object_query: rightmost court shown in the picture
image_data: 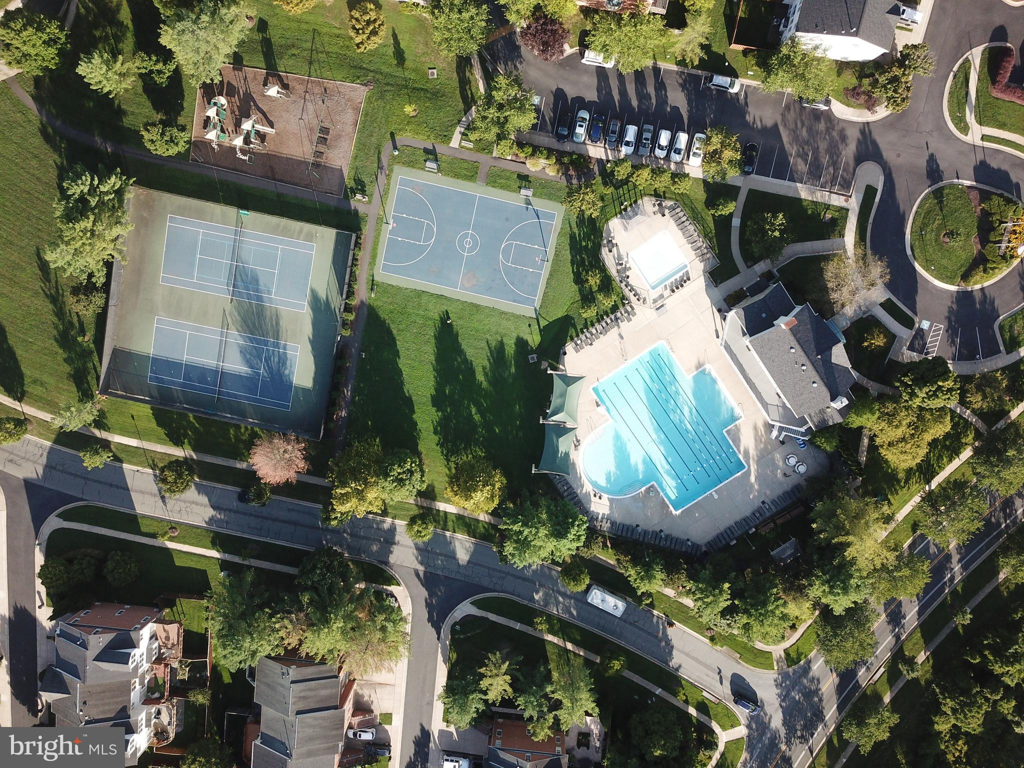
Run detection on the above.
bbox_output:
[374,166,565,318]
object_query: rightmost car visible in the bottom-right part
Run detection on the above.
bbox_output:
[732,694,761,715]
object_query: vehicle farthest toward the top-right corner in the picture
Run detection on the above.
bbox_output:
[907,6,928,27]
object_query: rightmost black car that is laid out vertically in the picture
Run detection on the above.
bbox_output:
[741,142,759,176]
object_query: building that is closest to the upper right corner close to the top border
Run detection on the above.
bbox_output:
[771,0,910,72]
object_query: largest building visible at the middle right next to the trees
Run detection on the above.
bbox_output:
[717,282,855,445]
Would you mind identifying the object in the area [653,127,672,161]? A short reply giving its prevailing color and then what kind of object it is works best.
white car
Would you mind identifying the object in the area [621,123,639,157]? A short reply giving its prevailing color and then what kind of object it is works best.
white car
